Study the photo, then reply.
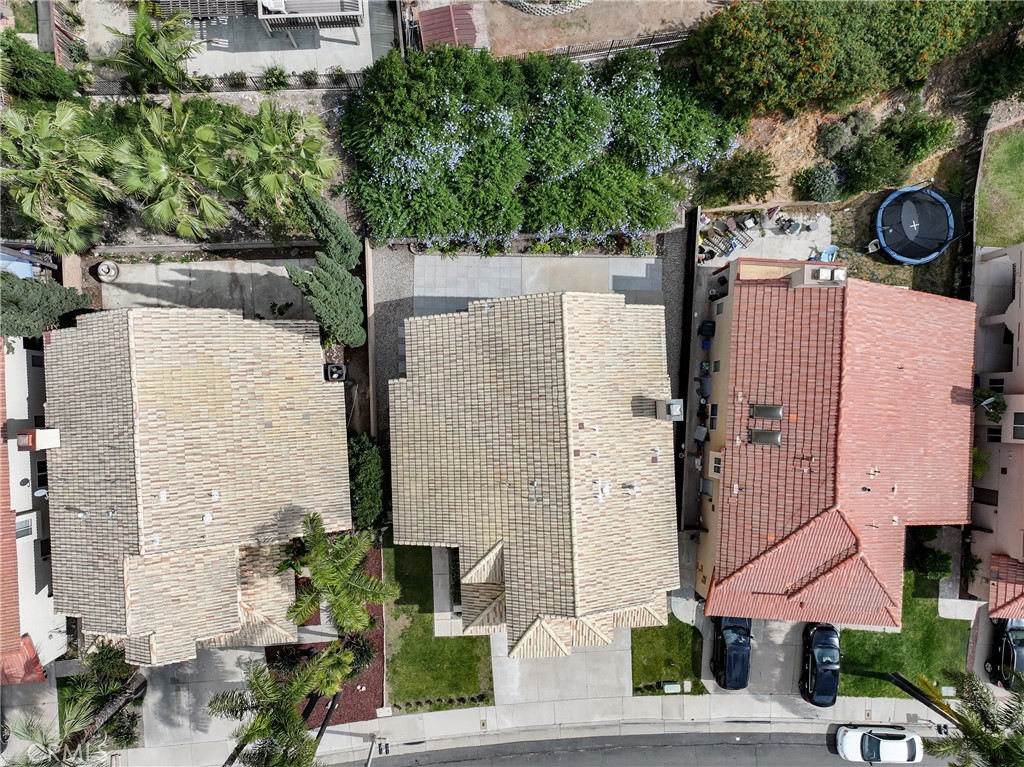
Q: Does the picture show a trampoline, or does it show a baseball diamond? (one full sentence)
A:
The image shows a trampoline.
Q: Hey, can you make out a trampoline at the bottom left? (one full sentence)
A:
No, at the bottom left there is no trampoline.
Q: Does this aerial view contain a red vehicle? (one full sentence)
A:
No, the frame has no red vehicle in it.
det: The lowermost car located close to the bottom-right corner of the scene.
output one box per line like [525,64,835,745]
[833,722,924,767]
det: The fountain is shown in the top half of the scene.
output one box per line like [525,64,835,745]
[94,260,117,281]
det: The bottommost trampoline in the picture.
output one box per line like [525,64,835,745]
[873,177,972,267]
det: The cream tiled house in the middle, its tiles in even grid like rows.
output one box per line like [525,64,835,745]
[388,290,685,660]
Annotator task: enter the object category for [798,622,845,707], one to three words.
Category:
car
